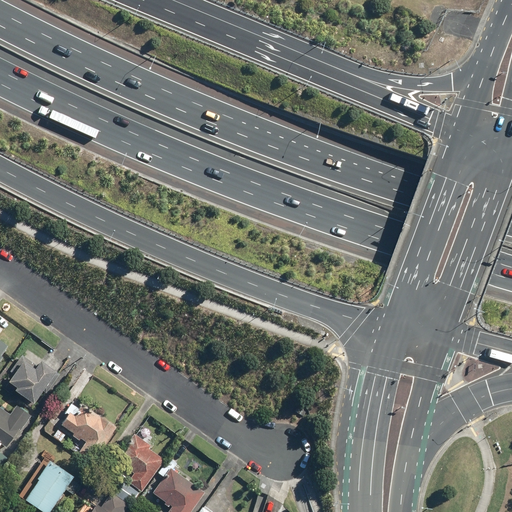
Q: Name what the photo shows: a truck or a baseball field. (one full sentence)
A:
The image shows a truck.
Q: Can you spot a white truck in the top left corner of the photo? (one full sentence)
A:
Yes, there is a white truck in the top left corner of the photo.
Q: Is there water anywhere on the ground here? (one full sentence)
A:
No, there's no water in this view.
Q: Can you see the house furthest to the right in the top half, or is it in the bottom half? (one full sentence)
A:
The house furthest to the right is in the bottom half of the image.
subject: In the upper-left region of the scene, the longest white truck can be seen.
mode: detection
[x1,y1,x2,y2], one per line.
[40,104,99,138]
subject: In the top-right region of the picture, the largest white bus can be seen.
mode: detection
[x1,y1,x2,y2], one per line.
[390,92,430,116]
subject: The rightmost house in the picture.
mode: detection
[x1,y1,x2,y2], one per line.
[154,469,204,512]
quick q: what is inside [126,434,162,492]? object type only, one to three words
house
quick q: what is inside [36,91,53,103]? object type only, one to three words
vehicle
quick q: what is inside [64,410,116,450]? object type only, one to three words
house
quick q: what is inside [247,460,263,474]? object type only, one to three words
vehicle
